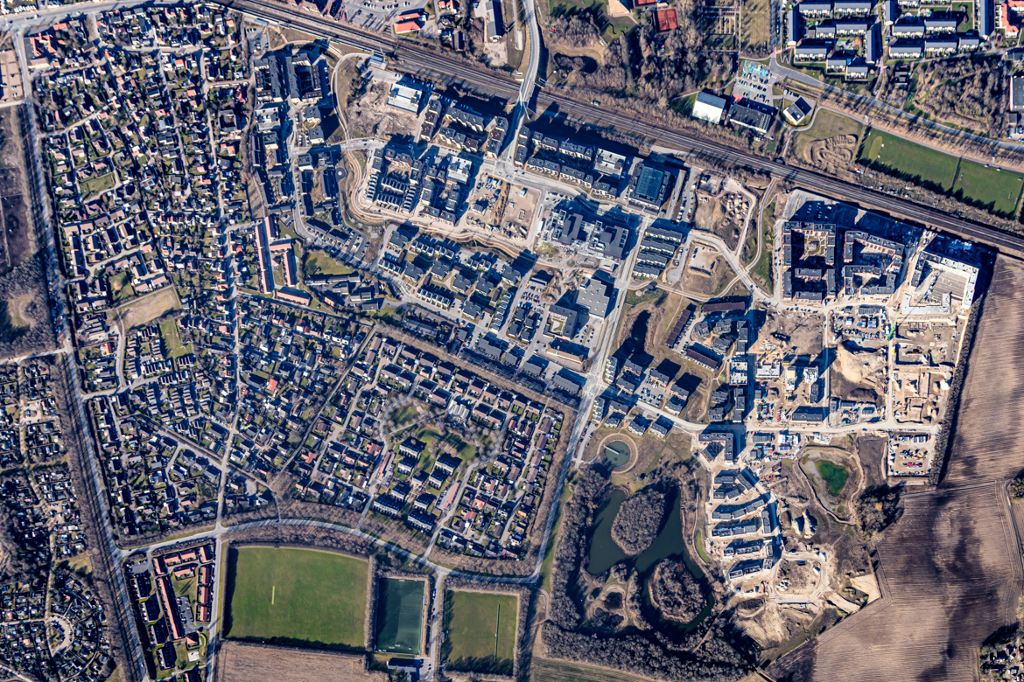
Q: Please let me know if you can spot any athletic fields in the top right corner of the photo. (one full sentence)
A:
Yes, I can see an athletic field in the top right corner of the photo.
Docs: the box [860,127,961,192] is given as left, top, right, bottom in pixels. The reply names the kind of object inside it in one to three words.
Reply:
sports field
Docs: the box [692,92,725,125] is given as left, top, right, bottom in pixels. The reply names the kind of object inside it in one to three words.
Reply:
building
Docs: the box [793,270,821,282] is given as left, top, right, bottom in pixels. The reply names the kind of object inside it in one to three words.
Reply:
building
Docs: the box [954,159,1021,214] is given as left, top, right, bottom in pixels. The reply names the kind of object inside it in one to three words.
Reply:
soccer field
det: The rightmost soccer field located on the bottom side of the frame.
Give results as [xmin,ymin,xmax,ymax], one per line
[446,590,518,673]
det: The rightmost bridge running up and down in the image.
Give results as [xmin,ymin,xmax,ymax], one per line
[497,0,549,161]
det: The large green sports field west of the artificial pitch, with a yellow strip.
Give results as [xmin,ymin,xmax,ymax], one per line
[225,546,369,649]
